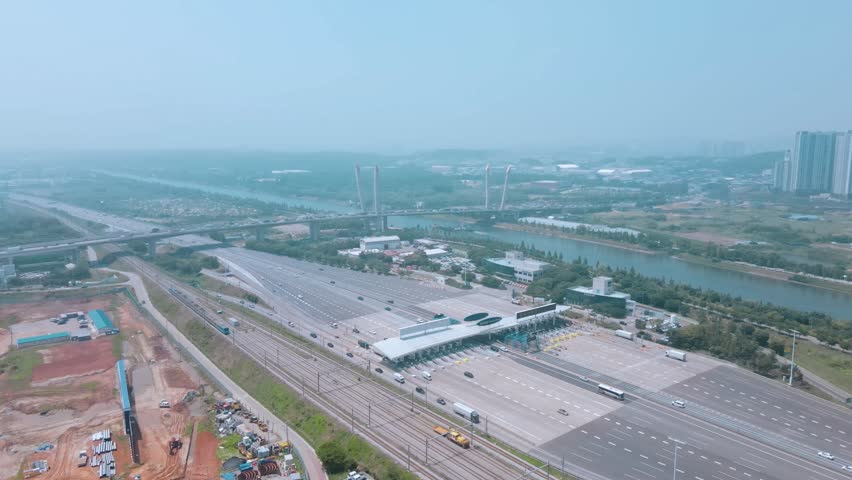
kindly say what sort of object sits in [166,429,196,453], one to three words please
work vehicle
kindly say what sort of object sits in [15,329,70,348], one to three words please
shed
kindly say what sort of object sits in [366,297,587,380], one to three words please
toll station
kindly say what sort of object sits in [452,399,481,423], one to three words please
truck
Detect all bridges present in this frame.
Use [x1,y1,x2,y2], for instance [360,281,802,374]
[0,163,691,261]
